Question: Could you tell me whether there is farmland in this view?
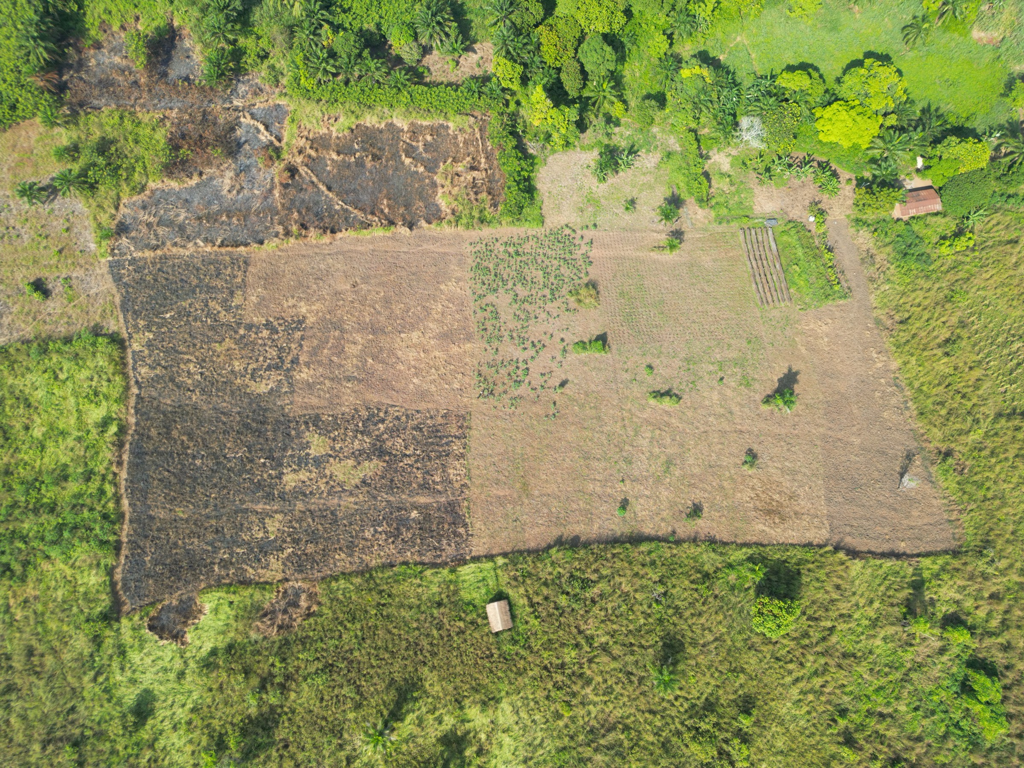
Yes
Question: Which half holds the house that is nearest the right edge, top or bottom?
top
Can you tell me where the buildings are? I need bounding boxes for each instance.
[894,189,942,219]
[484,599,516,631]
